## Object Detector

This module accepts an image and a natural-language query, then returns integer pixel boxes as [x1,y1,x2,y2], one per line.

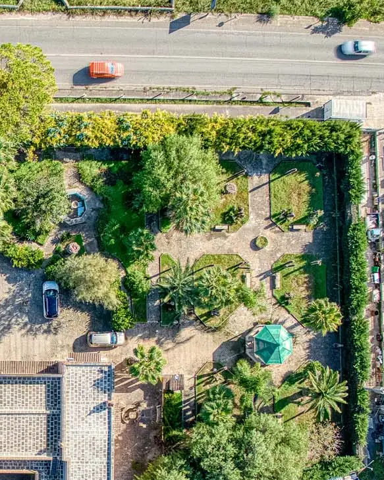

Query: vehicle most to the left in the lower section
[41,281,60,318]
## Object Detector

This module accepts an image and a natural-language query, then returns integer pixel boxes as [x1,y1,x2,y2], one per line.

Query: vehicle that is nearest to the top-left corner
[86,60,122,82]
